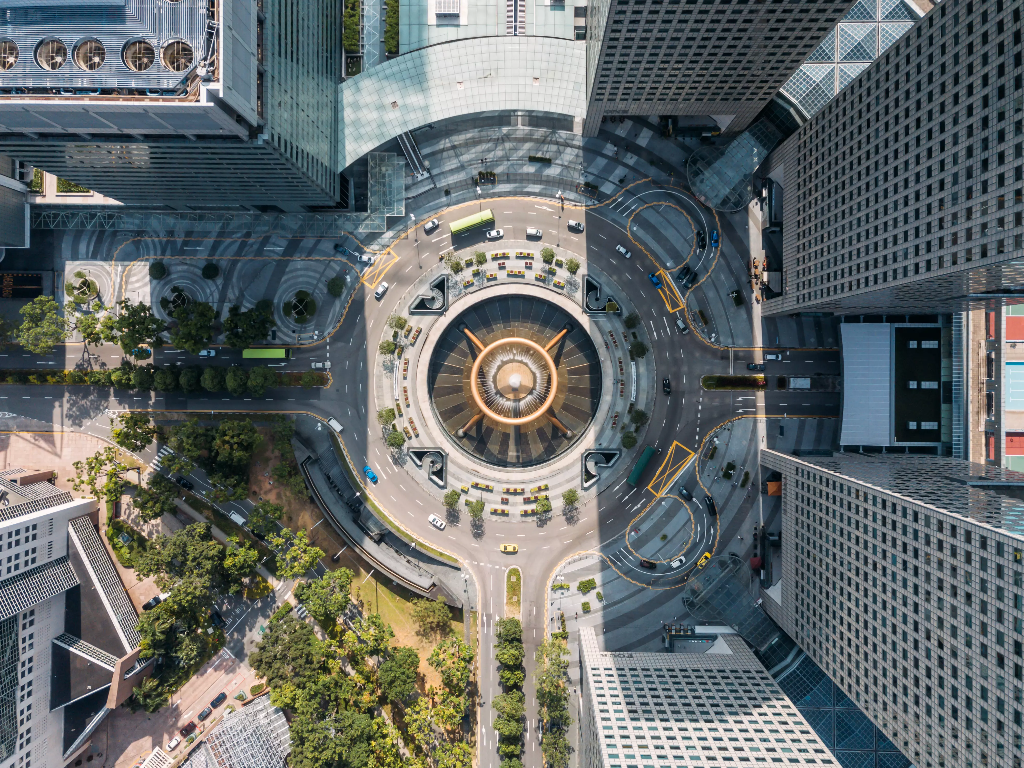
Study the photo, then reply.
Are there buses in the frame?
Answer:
Yes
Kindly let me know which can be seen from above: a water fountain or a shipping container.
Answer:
water fountain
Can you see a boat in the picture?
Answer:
No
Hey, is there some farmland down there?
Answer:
No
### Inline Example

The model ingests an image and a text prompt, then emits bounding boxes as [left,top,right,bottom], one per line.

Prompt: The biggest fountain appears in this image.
[423,289,606,472]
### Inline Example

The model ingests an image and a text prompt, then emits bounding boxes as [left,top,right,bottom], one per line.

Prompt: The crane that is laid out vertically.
[194,19,216,85]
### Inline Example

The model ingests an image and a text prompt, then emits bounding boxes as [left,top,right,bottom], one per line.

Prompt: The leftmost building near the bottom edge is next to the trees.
[0,466,175,768]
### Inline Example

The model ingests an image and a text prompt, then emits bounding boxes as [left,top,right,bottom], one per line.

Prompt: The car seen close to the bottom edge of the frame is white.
[165,736,181,751]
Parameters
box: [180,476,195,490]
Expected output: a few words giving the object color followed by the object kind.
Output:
black car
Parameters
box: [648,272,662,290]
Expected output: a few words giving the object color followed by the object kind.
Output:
blue car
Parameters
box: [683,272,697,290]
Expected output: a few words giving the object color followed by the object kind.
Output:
black car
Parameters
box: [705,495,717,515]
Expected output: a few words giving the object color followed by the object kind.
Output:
black vehicle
